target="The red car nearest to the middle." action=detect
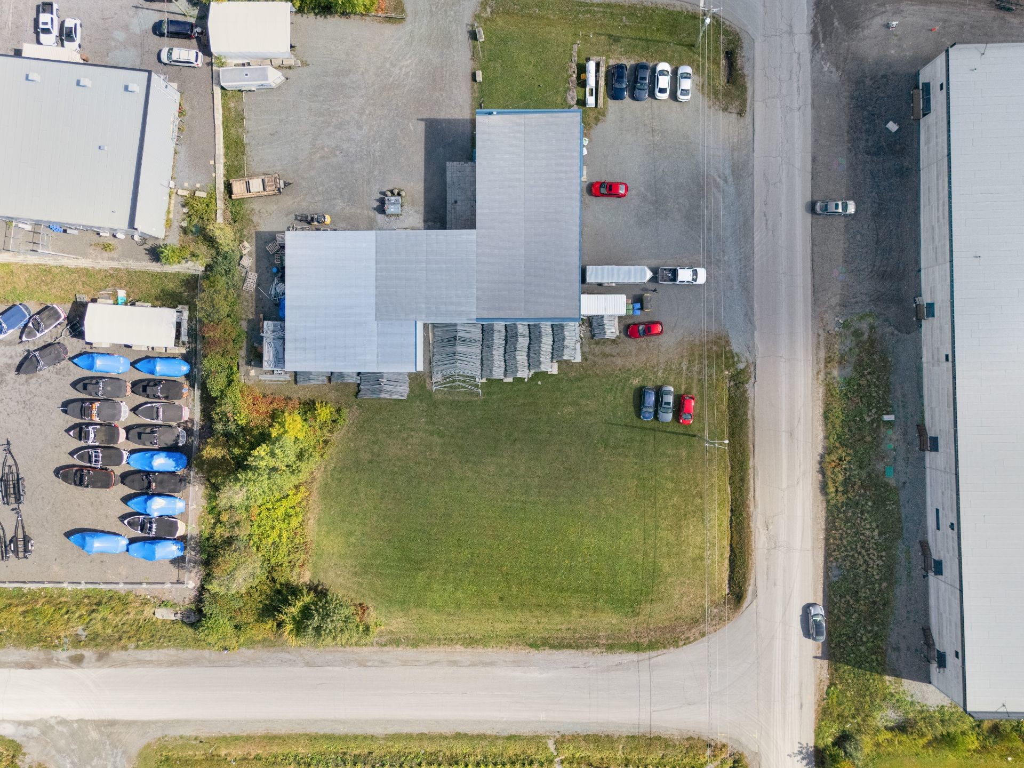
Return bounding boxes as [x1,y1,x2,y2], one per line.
[626,321,664,339]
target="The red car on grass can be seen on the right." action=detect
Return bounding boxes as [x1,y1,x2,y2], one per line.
[678,392,696,425]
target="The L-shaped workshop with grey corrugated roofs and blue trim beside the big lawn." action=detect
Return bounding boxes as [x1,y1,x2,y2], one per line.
[285,110,584,372]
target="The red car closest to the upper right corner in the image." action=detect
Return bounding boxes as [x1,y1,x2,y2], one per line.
[591,180,628,199]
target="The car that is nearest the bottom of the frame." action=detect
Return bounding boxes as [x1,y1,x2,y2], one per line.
[805,601,825,643]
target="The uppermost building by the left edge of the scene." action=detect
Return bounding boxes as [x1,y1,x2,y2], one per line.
[0,56,180,241]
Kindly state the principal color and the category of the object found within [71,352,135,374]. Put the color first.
blue boat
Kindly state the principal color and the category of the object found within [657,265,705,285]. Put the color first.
white vehicle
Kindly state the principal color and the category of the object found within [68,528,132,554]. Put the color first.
blue boat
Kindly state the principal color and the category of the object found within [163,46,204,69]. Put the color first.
white car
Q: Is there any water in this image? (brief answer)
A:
No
